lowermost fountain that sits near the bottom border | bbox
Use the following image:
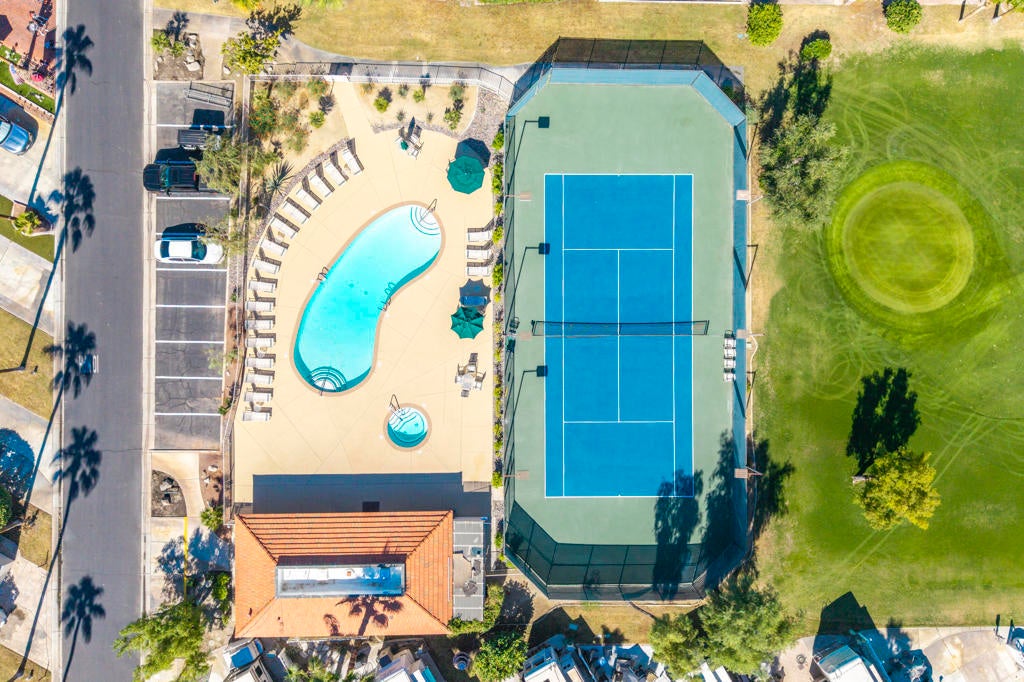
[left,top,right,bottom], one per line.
[454,646,473,666]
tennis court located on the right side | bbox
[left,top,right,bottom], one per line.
[506,84,734,584]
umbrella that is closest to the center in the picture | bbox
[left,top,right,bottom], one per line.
[451,304,485,339]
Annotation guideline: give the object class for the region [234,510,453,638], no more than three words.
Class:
building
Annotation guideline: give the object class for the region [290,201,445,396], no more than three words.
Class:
swimming pool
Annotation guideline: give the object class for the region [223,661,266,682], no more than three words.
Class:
vehicle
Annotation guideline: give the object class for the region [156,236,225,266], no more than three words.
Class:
car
